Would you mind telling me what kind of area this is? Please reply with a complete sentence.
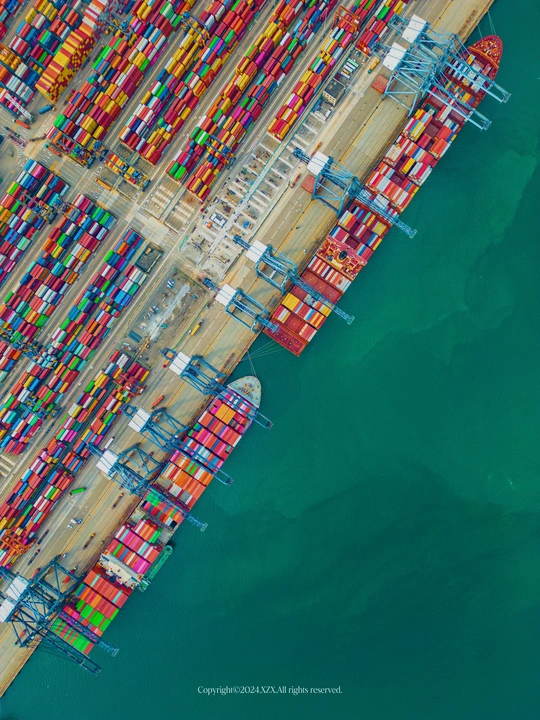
This looks like a port.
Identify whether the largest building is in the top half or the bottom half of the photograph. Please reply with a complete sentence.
Seen from above, the largest building lies in the top half of the view.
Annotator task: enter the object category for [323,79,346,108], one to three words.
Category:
building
